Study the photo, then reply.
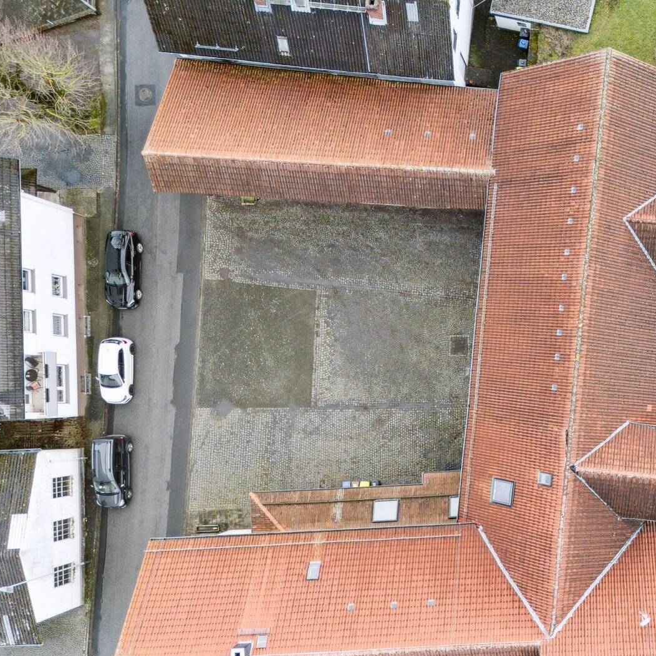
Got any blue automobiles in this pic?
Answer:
No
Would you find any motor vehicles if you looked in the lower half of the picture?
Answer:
Yes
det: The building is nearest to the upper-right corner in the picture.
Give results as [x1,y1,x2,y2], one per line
[490,0,596,43]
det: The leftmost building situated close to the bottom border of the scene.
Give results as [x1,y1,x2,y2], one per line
[0,447,84,647]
